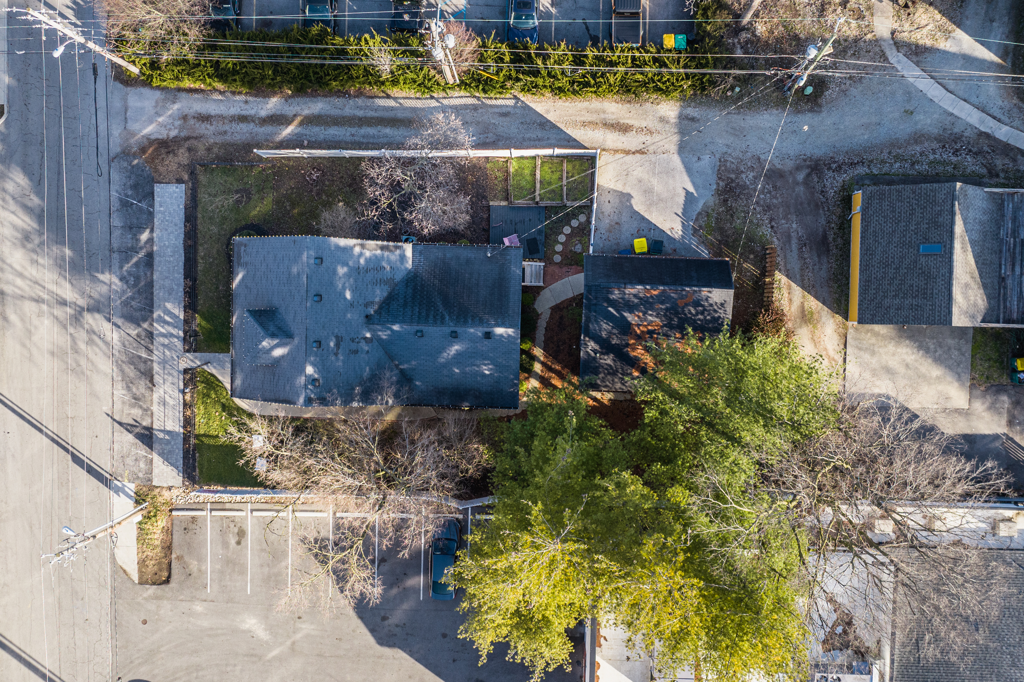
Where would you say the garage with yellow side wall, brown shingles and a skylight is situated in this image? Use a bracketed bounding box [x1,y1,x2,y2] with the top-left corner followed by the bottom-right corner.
[847,183,1023,327]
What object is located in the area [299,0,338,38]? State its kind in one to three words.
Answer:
car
